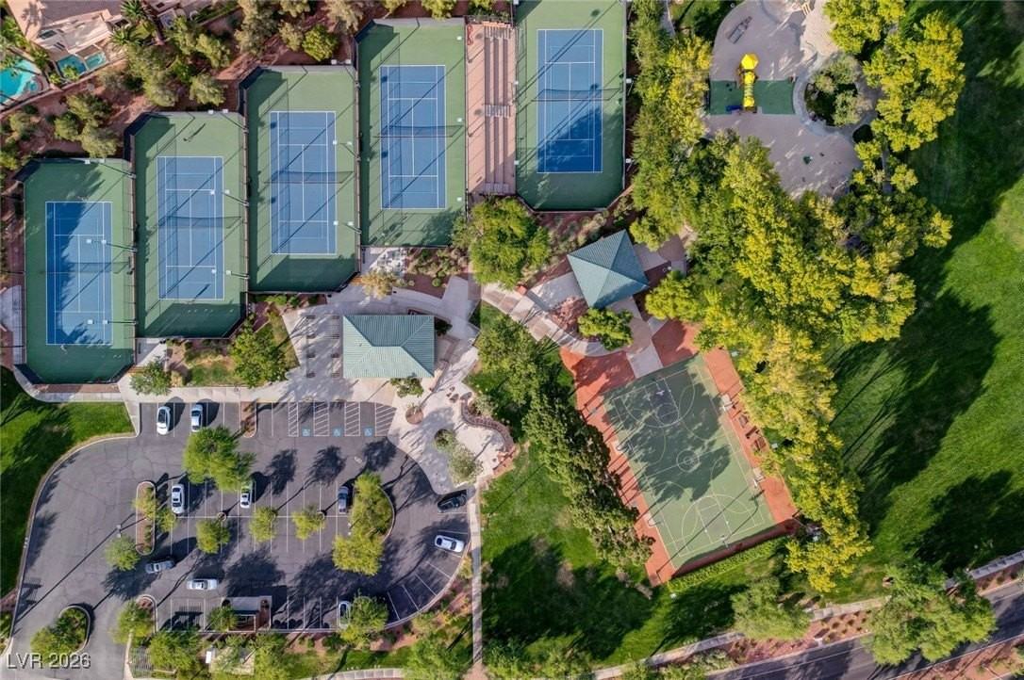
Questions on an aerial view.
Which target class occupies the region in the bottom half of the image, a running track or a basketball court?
basketball court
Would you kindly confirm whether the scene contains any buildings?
Yes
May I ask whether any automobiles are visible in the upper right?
No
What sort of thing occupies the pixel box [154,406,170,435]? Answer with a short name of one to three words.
car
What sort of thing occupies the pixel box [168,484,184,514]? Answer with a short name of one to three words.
car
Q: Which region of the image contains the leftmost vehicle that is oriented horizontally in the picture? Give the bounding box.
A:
[143,559,174,576]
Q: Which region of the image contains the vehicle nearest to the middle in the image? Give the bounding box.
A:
[437,493,468,513]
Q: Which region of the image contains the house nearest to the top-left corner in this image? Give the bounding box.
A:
[12,0,131,61]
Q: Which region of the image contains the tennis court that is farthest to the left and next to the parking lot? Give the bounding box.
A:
[23,160,130,381]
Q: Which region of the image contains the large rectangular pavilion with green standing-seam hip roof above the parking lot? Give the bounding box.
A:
[342,315,435,379]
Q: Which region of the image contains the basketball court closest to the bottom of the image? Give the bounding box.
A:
[561,319,801,586]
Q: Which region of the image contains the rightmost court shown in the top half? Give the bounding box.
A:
[516,0,626,210]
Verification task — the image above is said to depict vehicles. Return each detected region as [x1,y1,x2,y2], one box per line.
[168,484,184,514]
[337,601,350,631]
[433,536,465,554]
[185,579,216,594]
[437,493,468,513]
[237,480,252,511]
[143,559,174,576]
[154,406,170,435]
[335,484,349,514]
[187,404,202,434]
